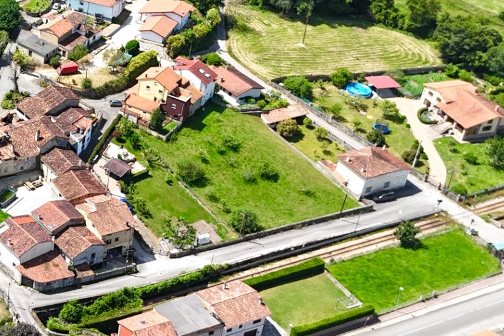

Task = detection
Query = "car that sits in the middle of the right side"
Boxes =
[372,192,395,205]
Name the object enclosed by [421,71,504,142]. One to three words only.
house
